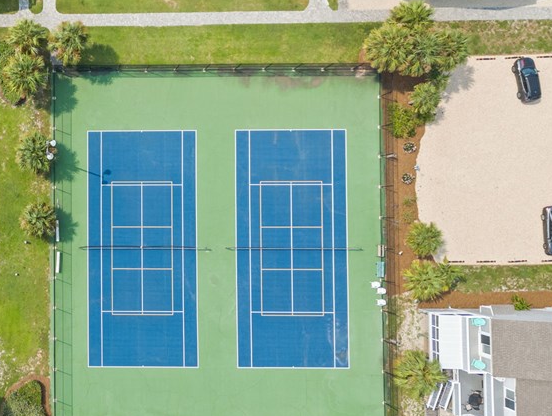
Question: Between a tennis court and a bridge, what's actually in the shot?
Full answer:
The image shows a tennis court.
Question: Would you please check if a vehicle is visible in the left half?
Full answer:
No, no vehicle can be made out in the left half.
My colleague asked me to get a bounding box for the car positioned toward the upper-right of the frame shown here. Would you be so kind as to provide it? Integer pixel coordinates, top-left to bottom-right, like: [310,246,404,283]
[513,57,544,103]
